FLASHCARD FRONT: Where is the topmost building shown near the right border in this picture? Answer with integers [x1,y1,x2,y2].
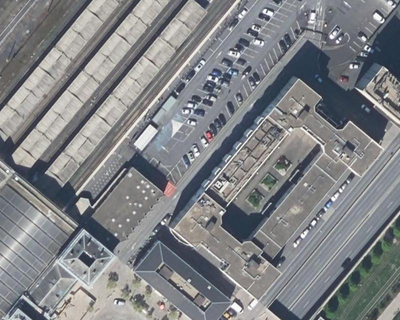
[356,64,400,124]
